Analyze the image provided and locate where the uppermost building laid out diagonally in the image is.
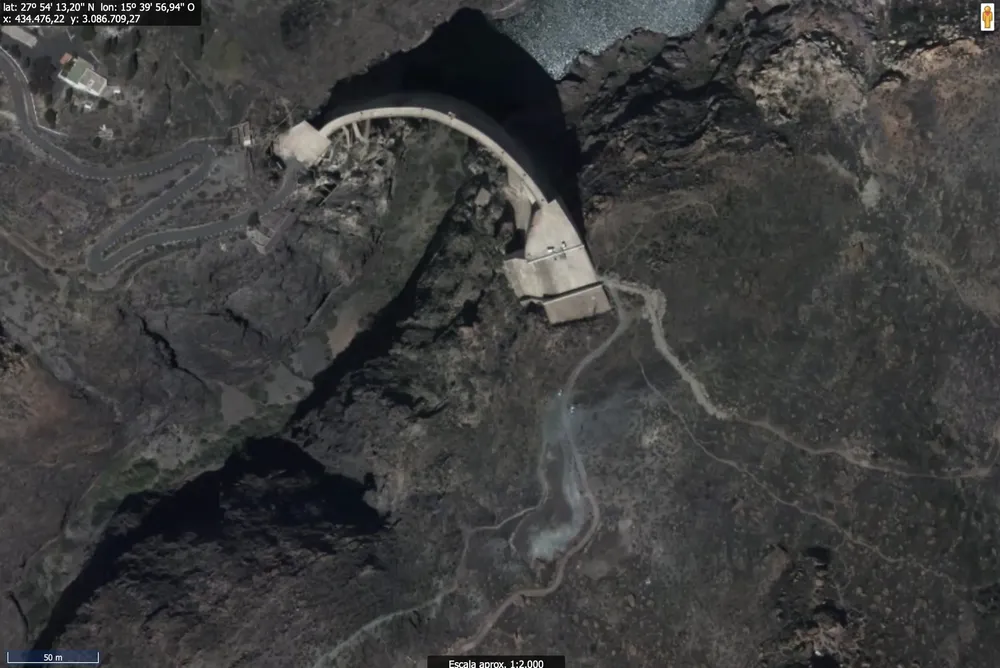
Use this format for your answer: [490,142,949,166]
[0,19,38,48]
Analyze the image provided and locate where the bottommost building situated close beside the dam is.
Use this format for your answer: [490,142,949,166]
[545,286,611,324]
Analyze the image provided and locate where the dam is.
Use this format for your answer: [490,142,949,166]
[317,97,603,304]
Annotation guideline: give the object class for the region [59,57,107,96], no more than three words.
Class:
house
